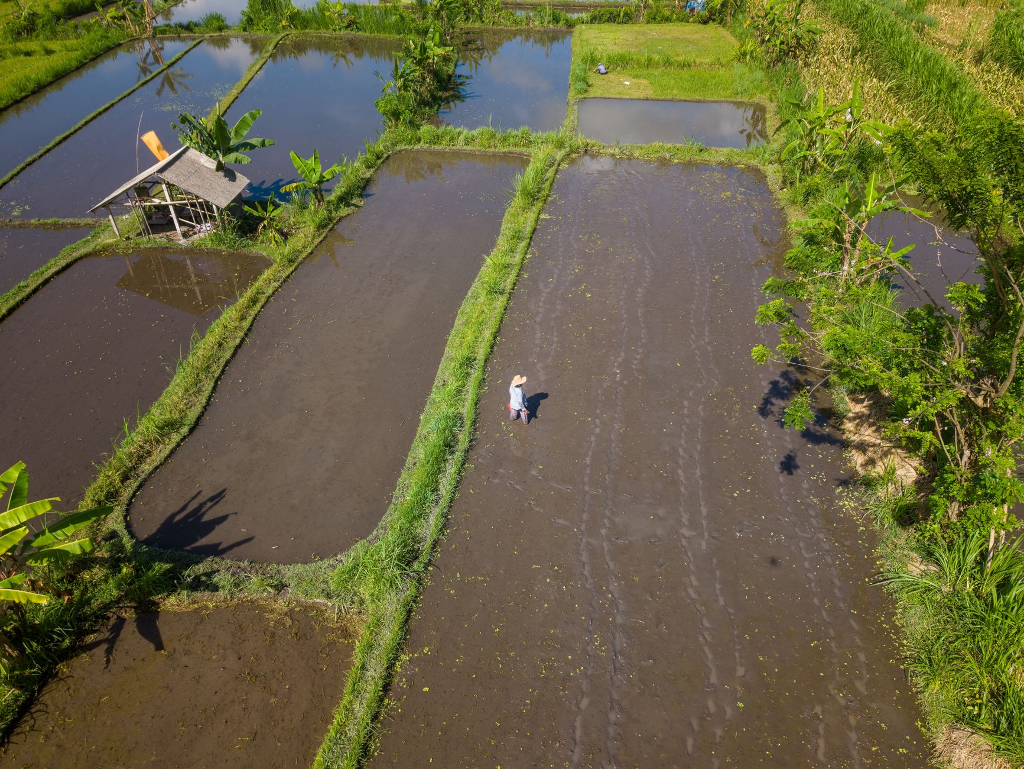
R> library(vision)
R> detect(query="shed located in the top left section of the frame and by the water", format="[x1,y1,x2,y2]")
[87,142,260,247]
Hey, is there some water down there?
Yes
